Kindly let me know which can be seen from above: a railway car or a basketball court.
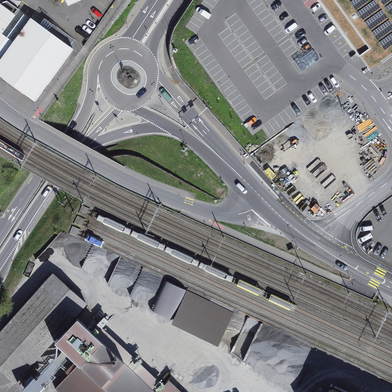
railway car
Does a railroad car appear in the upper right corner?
No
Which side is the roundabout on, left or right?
left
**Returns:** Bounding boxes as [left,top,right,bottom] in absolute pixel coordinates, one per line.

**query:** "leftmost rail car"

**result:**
[0,139,25,162]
